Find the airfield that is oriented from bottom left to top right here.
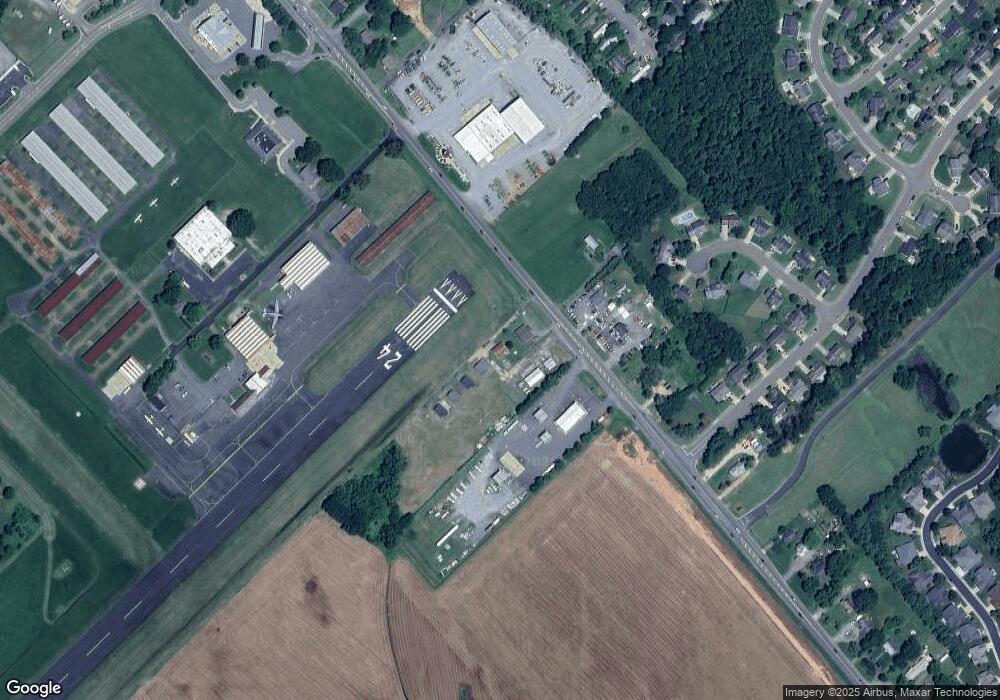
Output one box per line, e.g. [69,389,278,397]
[16,185,479,700]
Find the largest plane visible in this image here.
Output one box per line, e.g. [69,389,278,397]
[265,299,283,329]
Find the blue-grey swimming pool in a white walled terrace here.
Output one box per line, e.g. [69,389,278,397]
[672,208,695,227]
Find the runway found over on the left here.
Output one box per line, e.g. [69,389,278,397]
[16,269,479,700]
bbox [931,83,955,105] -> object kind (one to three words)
house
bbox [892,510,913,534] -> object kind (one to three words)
house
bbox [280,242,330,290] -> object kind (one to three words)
hangar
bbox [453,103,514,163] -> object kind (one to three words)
building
